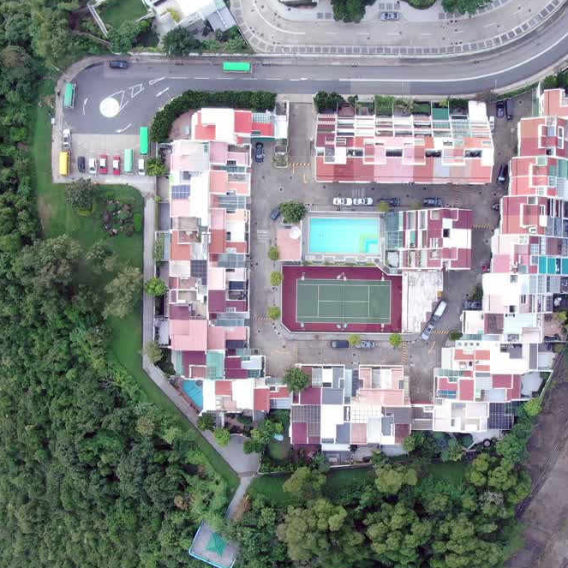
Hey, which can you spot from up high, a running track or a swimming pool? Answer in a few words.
swimming pool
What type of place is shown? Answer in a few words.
residential area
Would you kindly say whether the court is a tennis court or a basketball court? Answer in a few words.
tennis court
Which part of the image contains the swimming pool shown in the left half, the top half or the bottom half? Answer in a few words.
bottom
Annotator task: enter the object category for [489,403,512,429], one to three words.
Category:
solar panel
